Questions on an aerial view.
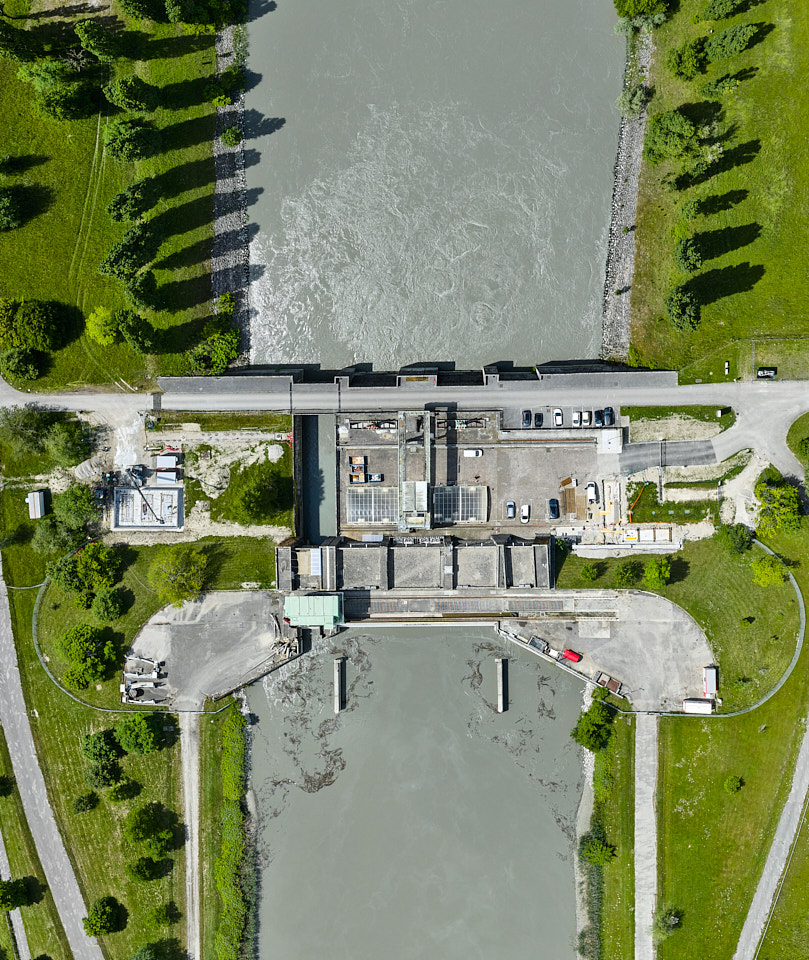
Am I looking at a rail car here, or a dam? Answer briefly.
dam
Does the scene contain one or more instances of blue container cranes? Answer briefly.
No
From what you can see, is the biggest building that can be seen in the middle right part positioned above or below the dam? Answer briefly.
above it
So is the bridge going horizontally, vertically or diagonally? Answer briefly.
horizontally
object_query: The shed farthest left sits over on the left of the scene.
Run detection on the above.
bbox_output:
[23,491,45,519]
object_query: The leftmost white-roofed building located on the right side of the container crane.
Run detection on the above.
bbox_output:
[600,429,625,452]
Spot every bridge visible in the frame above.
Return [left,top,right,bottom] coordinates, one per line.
[157,366,679,414]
